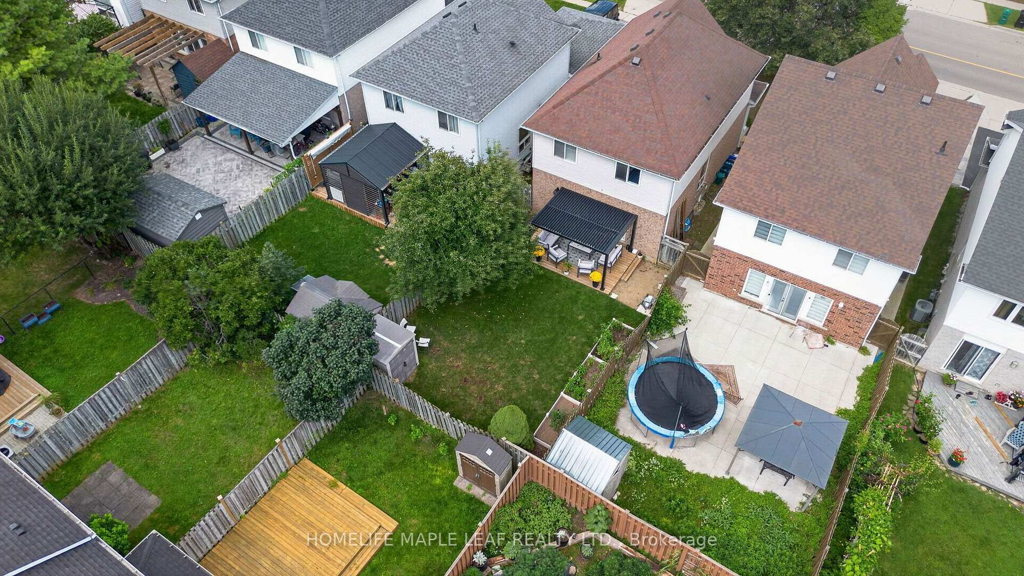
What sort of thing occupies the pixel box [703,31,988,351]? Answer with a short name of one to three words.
house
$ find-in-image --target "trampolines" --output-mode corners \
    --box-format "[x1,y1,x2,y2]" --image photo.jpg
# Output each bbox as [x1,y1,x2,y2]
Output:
[631,329,726,446]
